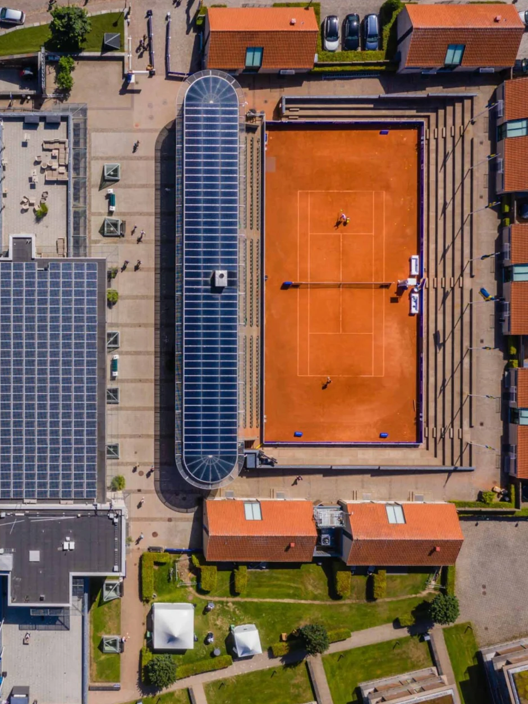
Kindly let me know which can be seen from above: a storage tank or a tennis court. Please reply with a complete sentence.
Of the two, only a tennis court appears.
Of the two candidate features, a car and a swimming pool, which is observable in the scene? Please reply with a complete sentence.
Of the two, only a car appears.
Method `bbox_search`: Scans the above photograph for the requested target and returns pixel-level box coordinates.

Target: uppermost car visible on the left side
[0,6,25,26]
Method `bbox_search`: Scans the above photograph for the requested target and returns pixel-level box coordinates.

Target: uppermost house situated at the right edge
[399,4,525,74]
